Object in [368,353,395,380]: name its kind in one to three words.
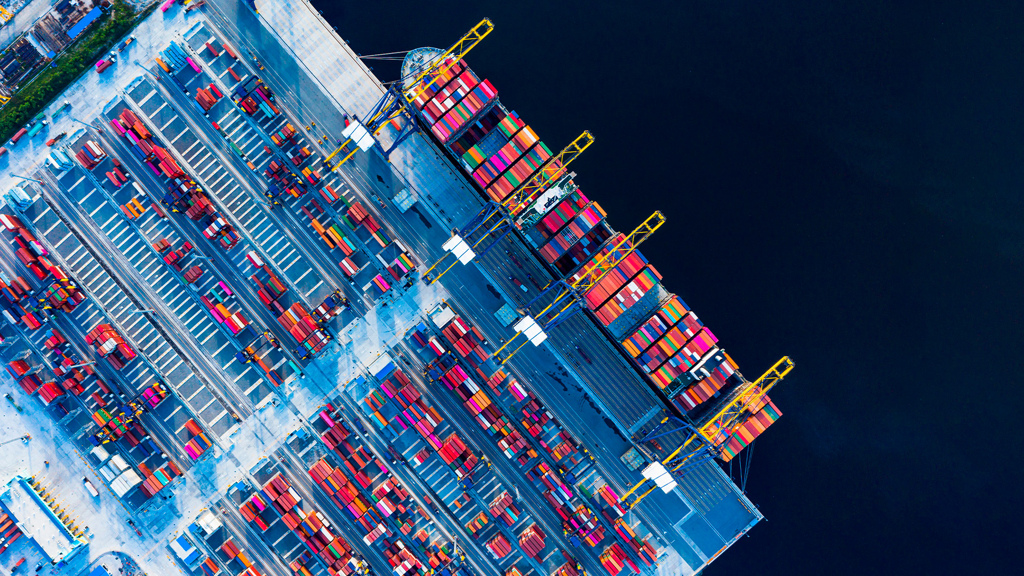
building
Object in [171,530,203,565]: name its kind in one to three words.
building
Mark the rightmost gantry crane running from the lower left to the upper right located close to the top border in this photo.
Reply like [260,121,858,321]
[324,17,496,172]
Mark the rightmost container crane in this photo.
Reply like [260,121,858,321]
[620,355,796,508]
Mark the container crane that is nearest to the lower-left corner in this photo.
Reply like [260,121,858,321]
[89,413,143,450]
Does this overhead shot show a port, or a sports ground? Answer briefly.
port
